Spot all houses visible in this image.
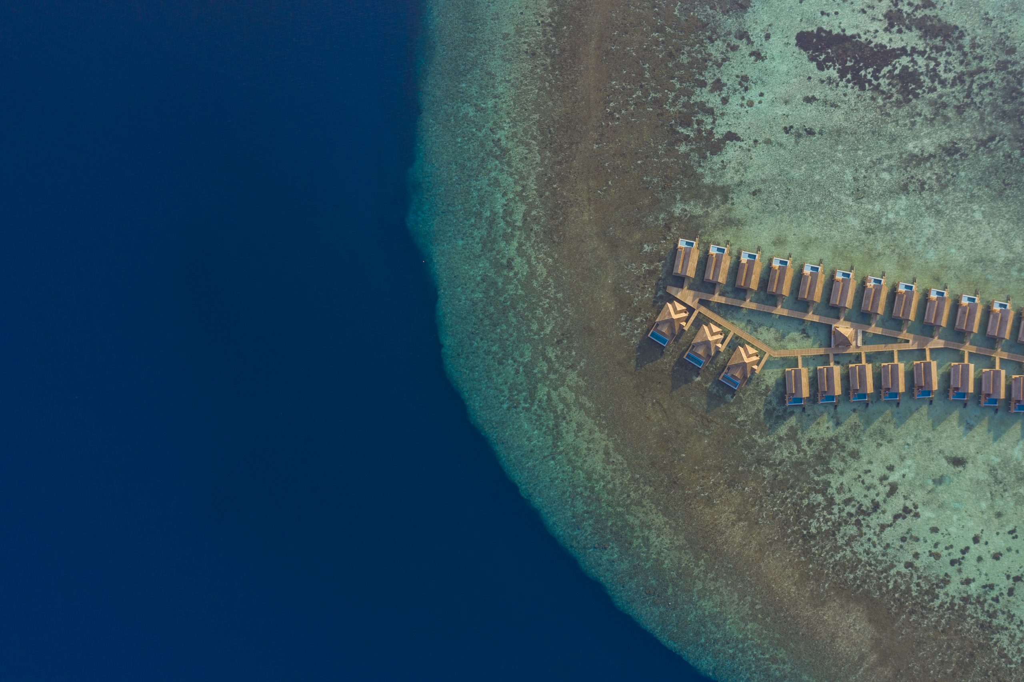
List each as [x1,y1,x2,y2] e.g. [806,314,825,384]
[879,362,905,406]
[647,300,690,353]
[859,272,887,315]
[922,284,950,327]
[704,242,731,285]
[890,278,919,322]
[673,236,700,278]
[767,254,794,297]
[797,259,825,303]
[911,360,937,404]
[784,367,809,411]
[816,365,841,409]
[978,368,1005,413]
[1009,375,1024,413]
[946,362,974,407]
[828,266,856,309]
[847,363,873,407]
[683,322,726,374]
[985,296,1013,340]
[735,248,762,291]
[1016,305,1024,345]
[718,344,761,395]
[954,290,982,334]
